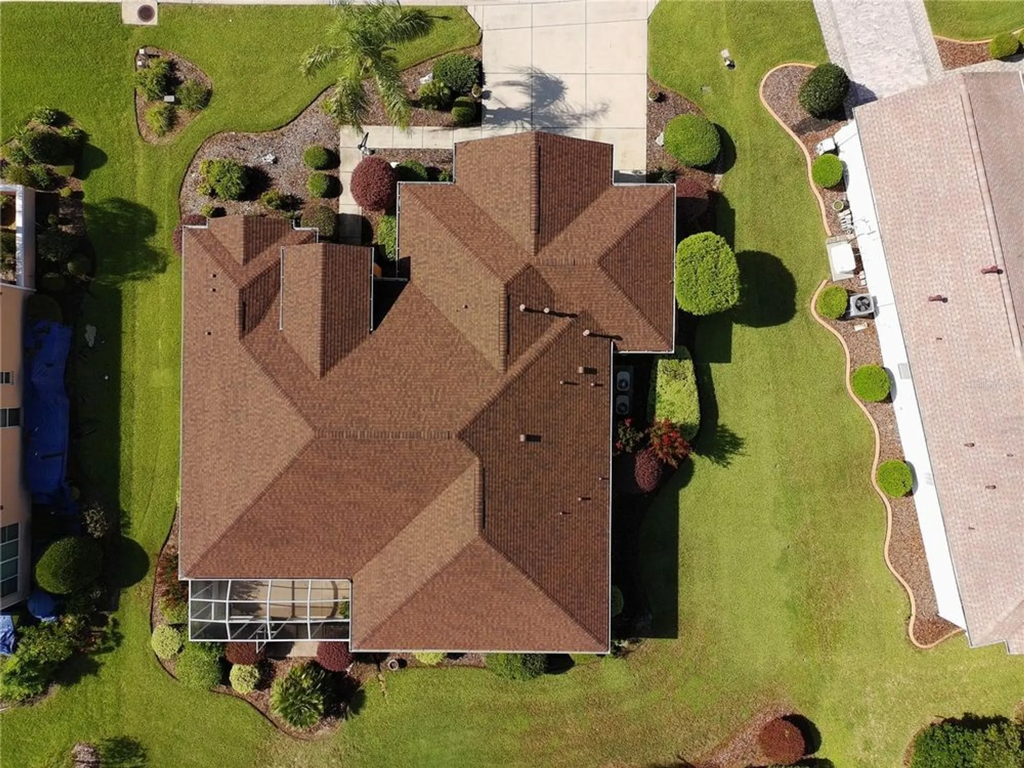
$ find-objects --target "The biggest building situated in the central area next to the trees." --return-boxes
[176,131,678,657]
